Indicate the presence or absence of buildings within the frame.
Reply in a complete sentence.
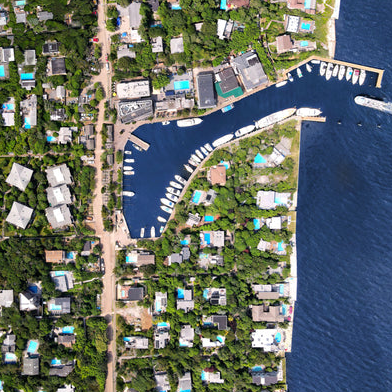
Yes, you can see a building in this photo.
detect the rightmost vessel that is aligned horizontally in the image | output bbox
[354,97,389,111]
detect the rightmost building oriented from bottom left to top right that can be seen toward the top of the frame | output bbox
[253,136,294,168]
